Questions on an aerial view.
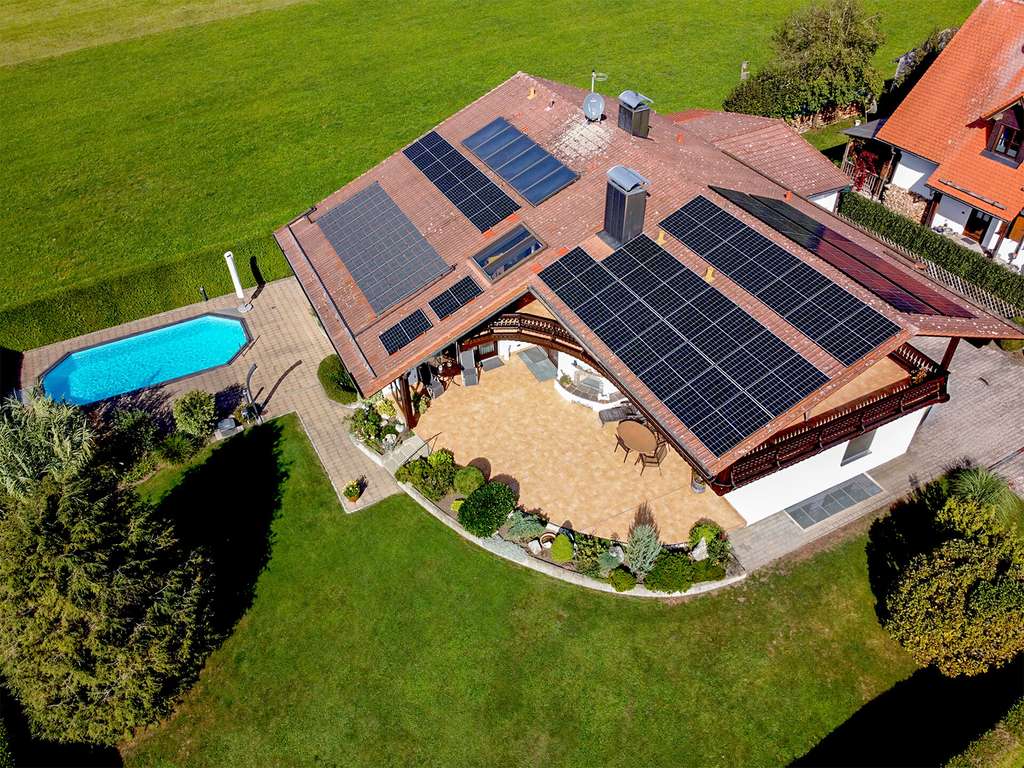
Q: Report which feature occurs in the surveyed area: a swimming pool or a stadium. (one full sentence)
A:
The image shows a swimming pool.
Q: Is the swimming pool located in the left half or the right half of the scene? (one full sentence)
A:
It is on the left.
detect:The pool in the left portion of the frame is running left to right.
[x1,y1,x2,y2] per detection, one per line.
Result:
[42,311,256,405]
